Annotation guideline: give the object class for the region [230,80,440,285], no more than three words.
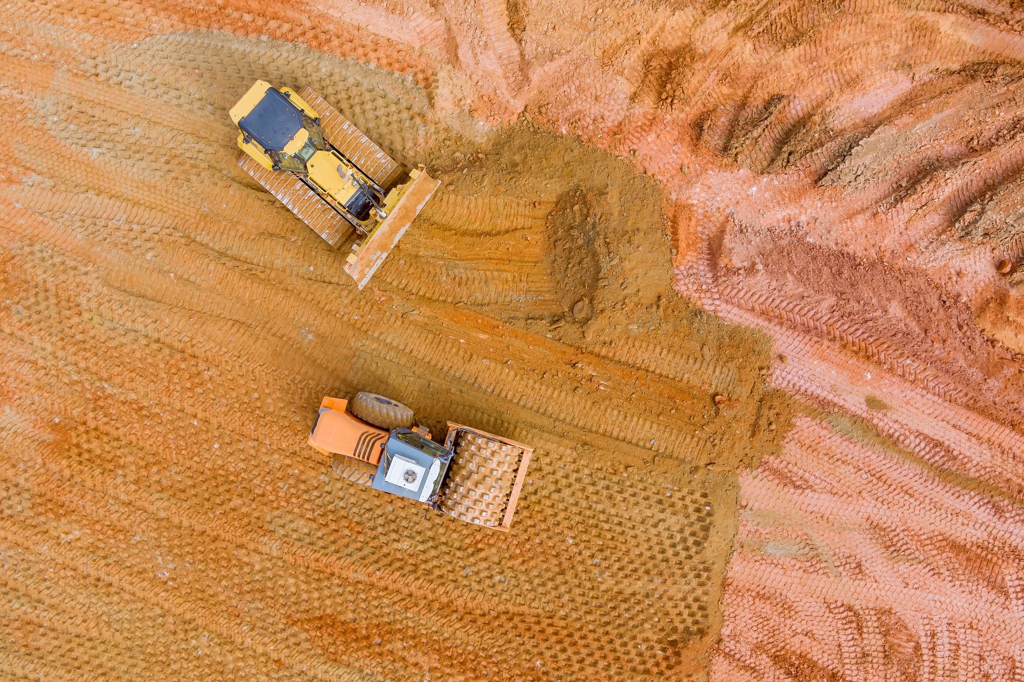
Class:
work vehicle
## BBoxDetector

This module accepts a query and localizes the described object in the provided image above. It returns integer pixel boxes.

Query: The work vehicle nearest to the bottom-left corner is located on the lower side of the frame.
[307,391,535,532]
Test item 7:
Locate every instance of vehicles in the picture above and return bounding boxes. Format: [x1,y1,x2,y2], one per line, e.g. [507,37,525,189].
[230,80,440,285]
[307,391,535,532]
